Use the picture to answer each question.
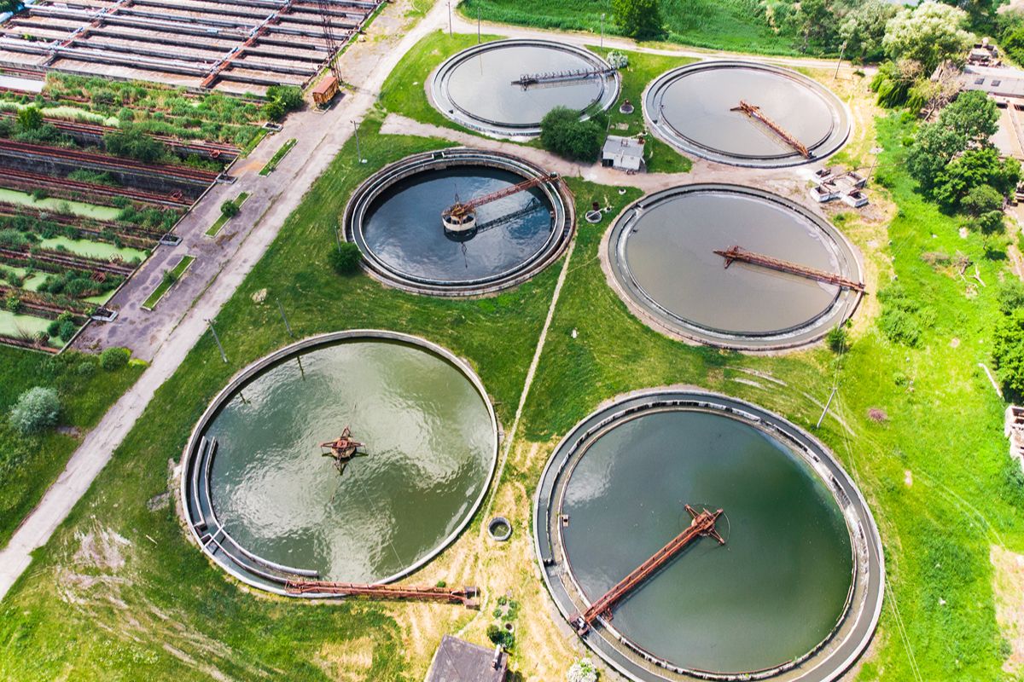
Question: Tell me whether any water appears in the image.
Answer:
Yes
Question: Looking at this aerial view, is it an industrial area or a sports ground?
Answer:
industrial area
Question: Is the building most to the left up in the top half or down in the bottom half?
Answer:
bottom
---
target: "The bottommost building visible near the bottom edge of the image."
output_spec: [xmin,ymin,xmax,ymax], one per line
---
[429,635,507,682]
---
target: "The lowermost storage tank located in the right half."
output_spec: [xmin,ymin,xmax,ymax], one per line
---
[534,390,882,682]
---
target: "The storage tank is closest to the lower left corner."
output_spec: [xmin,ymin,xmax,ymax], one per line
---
[183,328,496,595]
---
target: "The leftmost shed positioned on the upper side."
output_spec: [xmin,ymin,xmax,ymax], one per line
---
[602,133,647,175]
